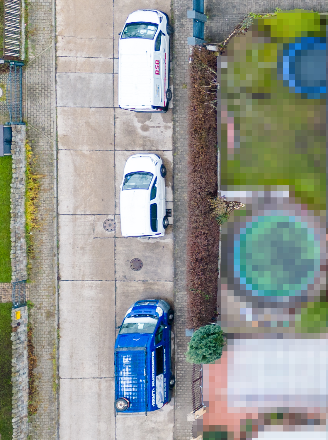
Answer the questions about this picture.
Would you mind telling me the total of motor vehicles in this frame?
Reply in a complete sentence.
In total, 3 motor vehicles can be seen.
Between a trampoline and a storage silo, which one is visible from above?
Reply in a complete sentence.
Looking from above, you can make out a trampoline.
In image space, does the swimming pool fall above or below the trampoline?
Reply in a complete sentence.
The swimming pool is below the trampoline.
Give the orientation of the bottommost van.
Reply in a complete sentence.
I'd say the bottommost van is aligned vertically in the picture.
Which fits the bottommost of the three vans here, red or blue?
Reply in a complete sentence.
In this view, the bottommost of the three vans is blue.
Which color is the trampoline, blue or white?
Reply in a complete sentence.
The color of the trampoline is blue.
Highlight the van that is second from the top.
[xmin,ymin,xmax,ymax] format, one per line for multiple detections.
[119,151,172,239]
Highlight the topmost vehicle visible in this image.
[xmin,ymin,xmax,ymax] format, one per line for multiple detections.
[118,9,176,115]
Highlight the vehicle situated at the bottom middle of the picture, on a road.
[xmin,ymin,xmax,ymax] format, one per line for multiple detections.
[113,298,177,416]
